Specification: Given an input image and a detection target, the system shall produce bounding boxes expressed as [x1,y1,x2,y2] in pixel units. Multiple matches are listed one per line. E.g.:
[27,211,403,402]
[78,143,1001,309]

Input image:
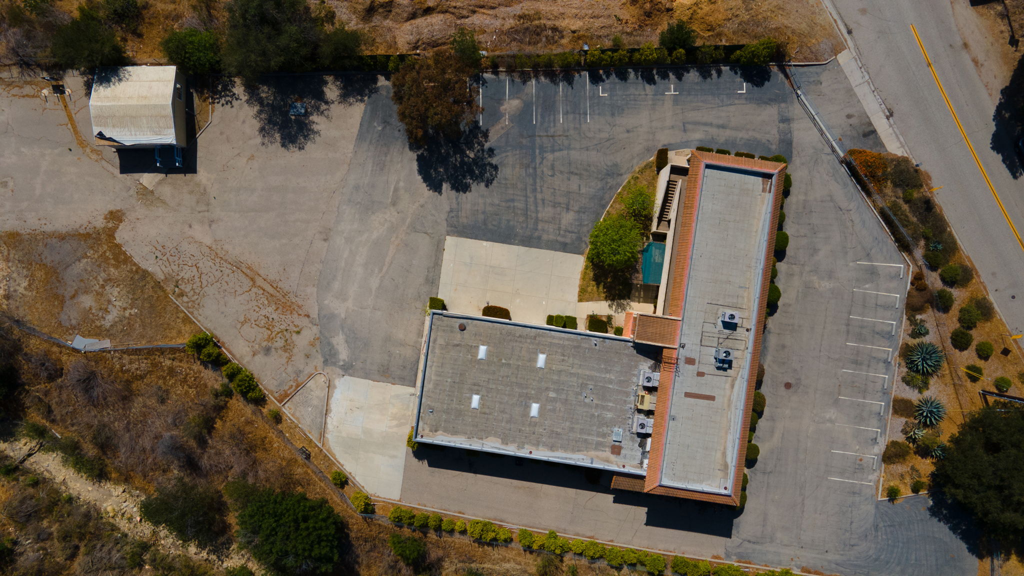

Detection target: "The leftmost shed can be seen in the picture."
[87,66,186,150]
